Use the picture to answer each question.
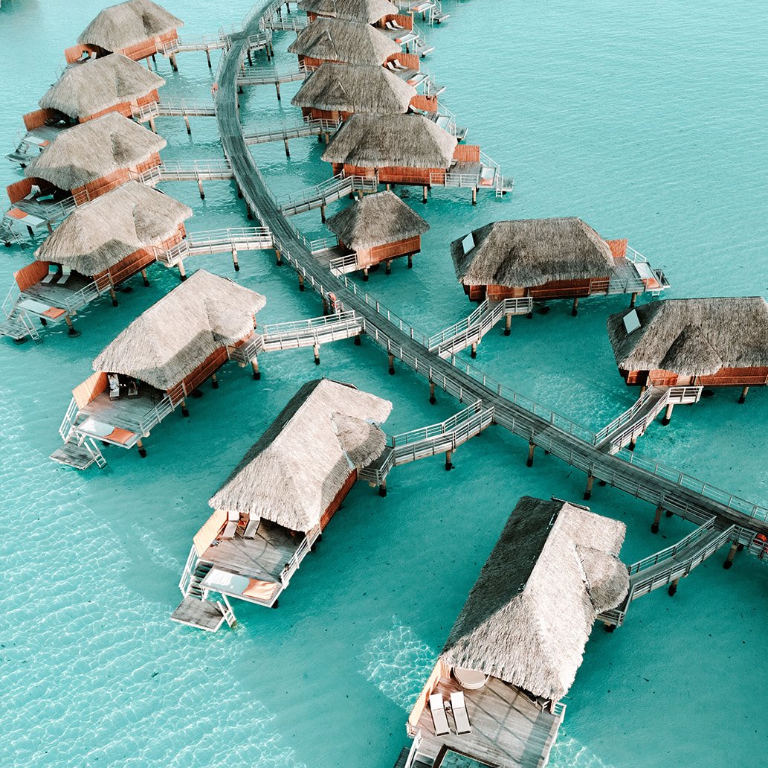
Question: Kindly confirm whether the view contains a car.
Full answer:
No, there isn't any car down there.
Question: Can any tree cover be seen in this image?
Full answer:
No, the picture contains no tree cover.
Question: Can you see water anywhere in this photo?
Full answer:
Yes, water can be seen from above here.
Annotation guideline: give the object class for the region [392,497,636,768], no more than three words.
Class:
house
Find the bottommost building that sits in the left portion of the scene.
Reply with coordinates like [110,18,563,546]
[170,379,396,634]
